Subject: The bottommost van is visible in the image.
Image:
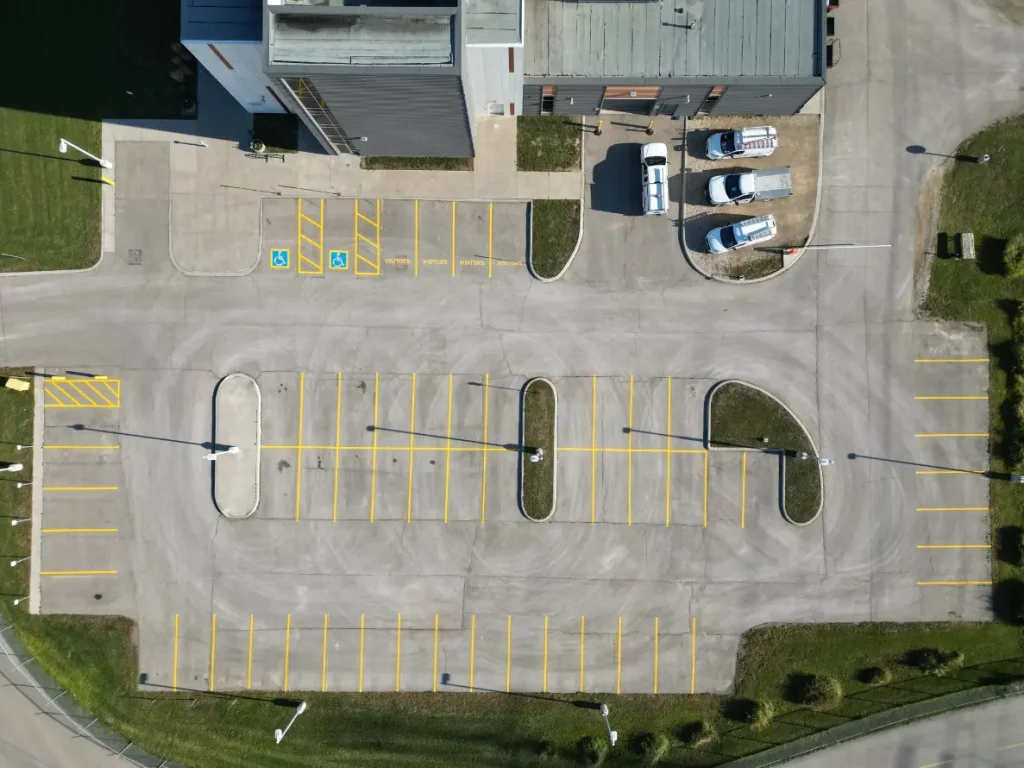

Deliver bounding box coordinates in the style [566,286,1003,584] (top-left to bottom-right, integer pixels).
[704,213,776,255]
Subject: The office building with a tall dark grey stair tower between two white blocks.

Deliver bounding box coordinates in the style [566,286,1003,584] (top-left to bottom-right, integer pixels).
[179,0,525,156]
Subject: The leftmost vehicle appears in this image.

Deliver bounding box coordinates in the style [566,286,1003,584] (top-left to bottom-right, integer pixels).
[640,141,672,216]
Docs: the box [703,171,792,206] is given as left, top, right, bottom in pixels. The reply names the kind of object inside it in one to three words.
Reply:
truck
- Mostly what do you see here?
paved ground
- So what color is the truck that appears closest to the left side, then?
white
